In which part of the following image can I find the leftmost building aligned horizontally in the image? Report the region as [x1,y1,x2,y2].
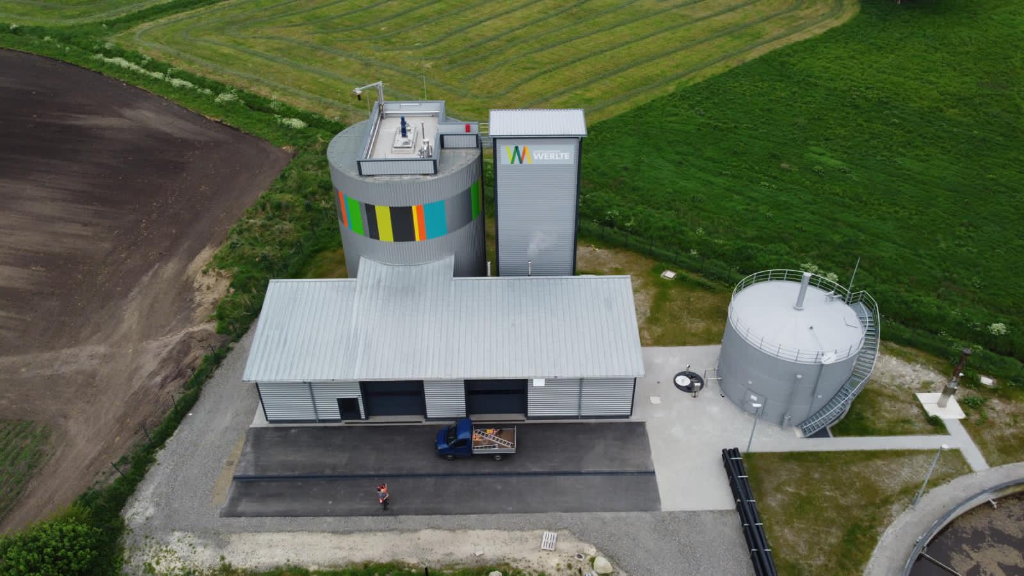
[242,252,646,426]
